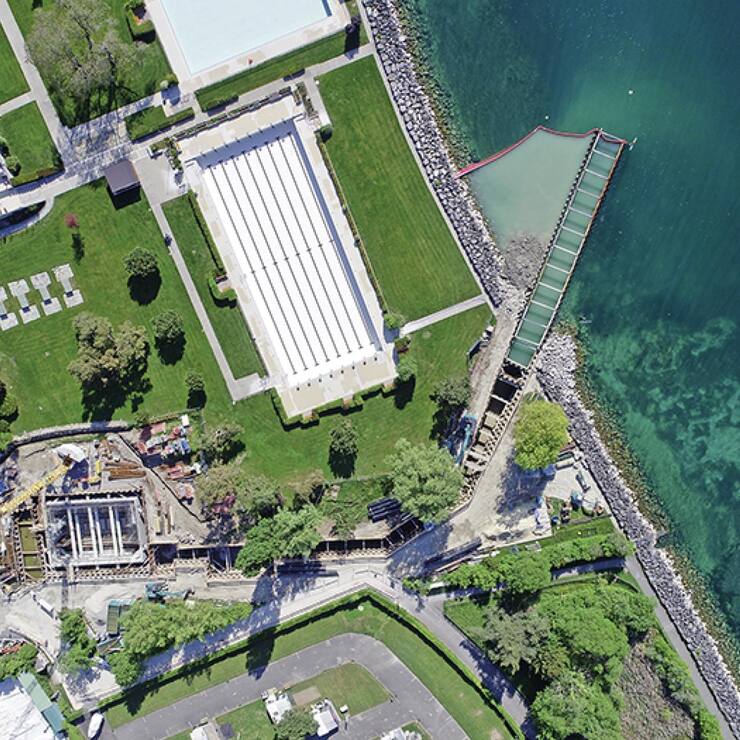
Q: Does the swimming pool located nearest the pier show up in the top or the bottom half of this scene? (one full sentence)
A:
It is in the top half that the swimming pool located nearest the pier appears.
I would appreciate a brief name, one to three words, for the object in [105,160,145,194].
shed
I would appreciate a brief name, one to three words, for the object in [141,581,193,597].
work vehicle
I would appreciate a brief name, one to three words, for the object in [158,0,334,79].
swimming pool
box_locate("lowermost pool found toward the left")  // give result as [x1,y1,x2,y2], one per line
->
[183,112,386,388]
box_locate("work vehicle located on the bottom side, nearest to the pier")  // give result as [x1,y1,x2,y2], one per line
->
[452,420,476,472]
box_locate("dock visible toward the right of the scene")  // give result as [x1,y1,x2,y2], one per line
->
[507,129,629,369]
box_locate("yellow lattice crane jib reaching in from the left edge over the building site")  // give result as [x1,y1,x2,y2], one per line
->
[0,458,72,513]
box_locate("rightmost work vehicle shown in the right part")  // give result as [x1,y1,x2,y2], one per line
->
[577,473,591,494]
